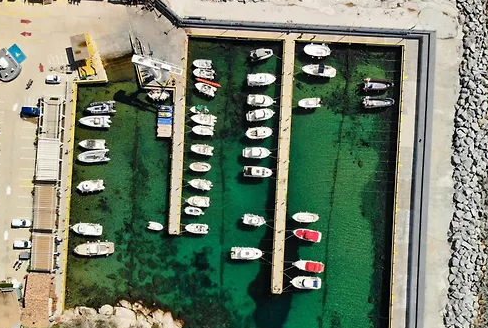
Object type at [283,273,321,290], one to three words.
boat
